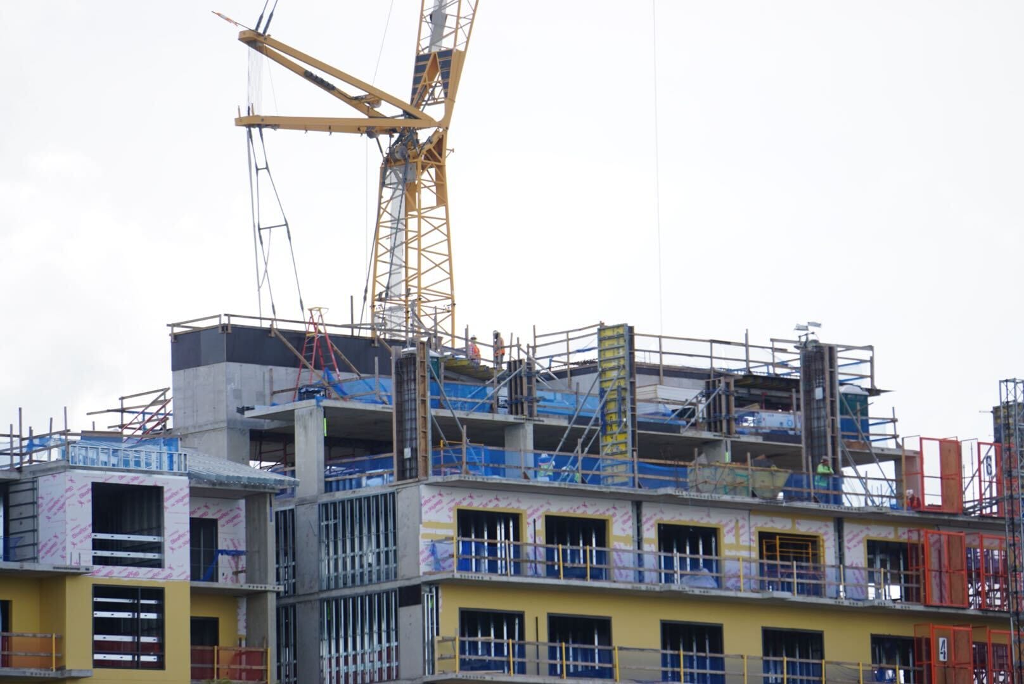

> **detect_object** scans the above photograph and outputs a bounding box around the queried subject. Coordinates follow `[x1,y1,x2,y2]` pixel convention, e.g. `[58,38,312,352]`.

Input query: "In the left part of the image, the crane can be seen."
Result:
[211,0,481,347]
